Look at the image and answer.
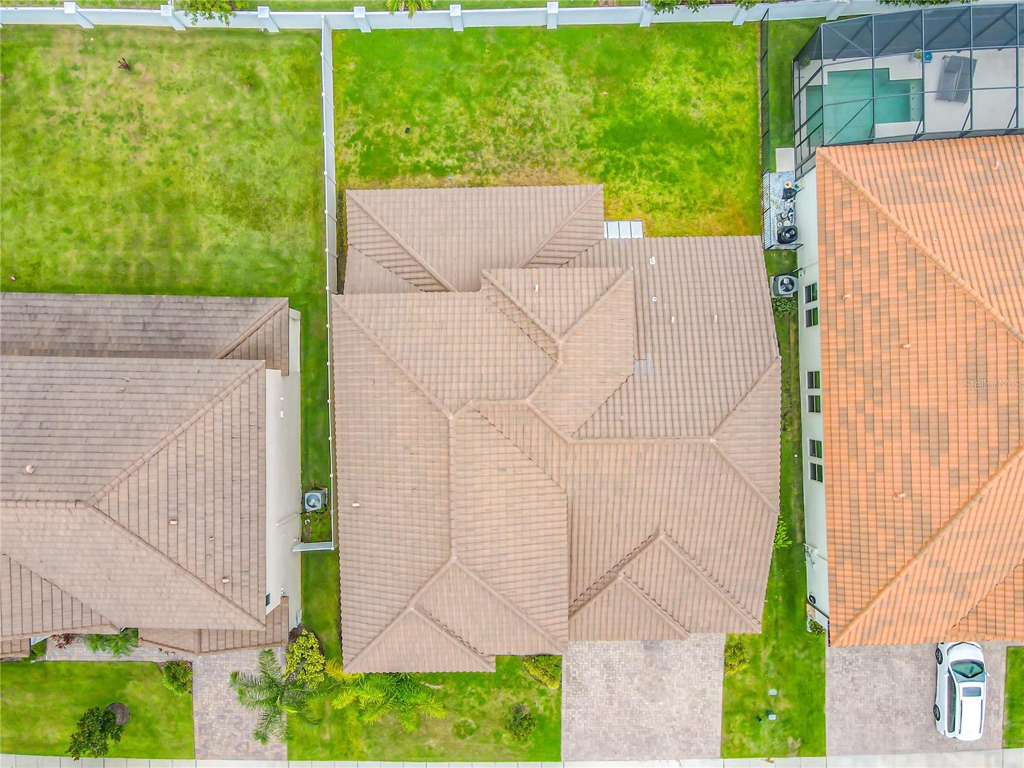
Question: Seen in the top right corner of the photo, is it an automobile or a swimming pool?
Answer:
swimming pool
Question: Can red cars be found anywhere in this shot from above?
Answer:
No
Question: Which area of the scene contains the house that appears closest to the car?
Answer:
right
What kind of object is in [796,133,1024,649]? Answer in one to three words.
house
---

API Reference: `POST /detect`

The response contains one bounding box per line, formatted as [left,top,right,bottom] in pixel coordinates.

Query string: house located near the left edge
[0,292,302,661]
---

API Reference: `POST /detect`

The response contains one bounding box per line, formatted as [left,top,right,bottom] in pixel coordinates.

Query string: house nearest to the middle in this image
[329,182,784,676]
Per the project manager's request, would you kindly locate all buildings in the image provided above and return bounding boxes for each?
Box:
[329,182,784,676]
[796,133,1024,649]
[0,292,302,661]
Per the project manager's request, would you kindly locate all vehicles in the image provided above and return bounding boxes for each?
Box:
[932,640,988,740]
